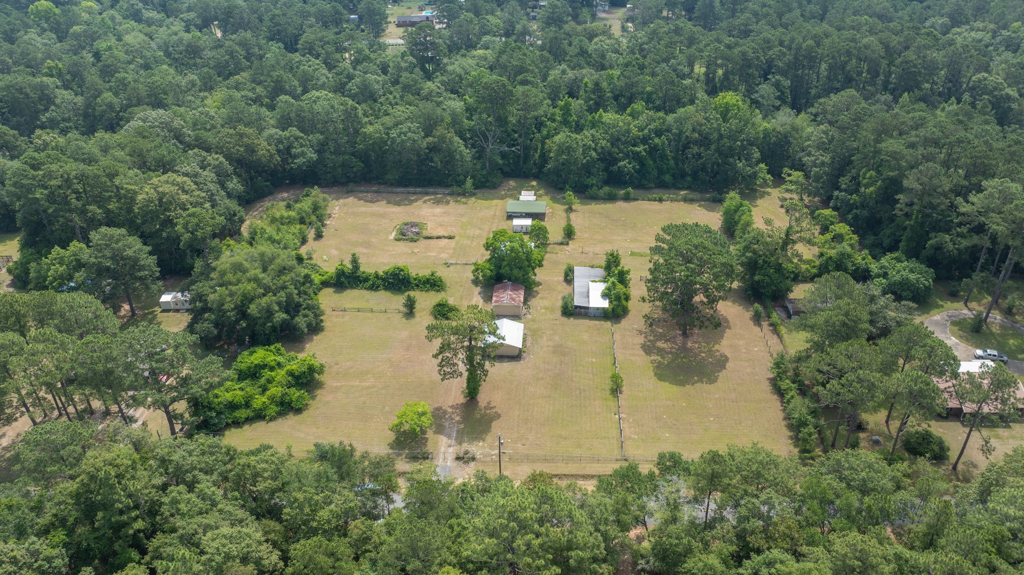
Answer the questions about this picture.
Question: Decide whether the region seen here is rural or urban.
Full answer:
This place is rural.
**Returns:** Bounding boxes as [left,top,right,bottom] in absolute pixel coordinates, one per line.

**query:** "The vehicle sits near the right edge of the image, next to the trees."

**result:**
[974,349,1011,362]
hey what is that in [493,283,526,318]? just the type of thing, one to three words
shed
